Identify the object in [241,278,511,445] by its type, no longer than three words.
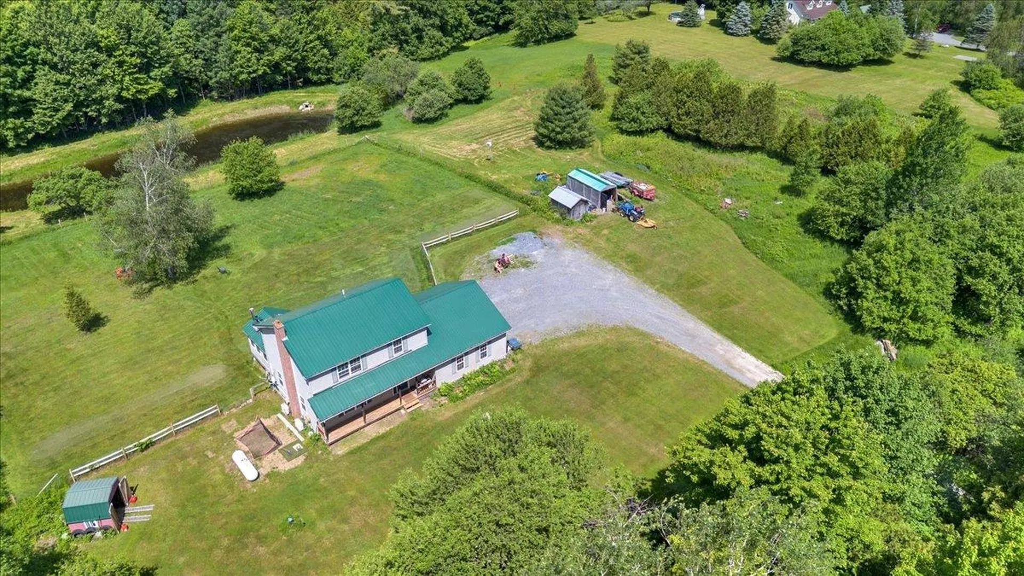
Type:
house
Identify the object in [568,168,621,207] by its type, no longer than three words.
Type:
shed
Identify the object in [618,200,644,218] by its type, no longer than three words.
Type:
work vehicle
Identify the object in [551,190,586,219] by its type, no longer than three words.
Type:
shed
